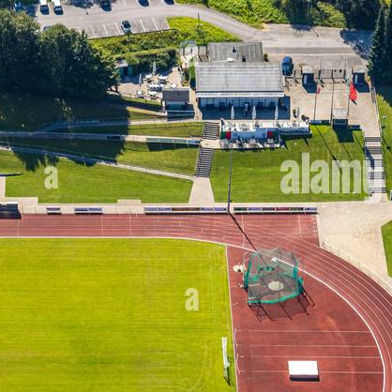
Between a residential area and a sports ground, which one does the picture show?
sports ground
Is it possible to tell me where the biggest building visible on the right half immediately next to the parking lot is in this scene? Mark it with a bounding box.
[195,42,286,106]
